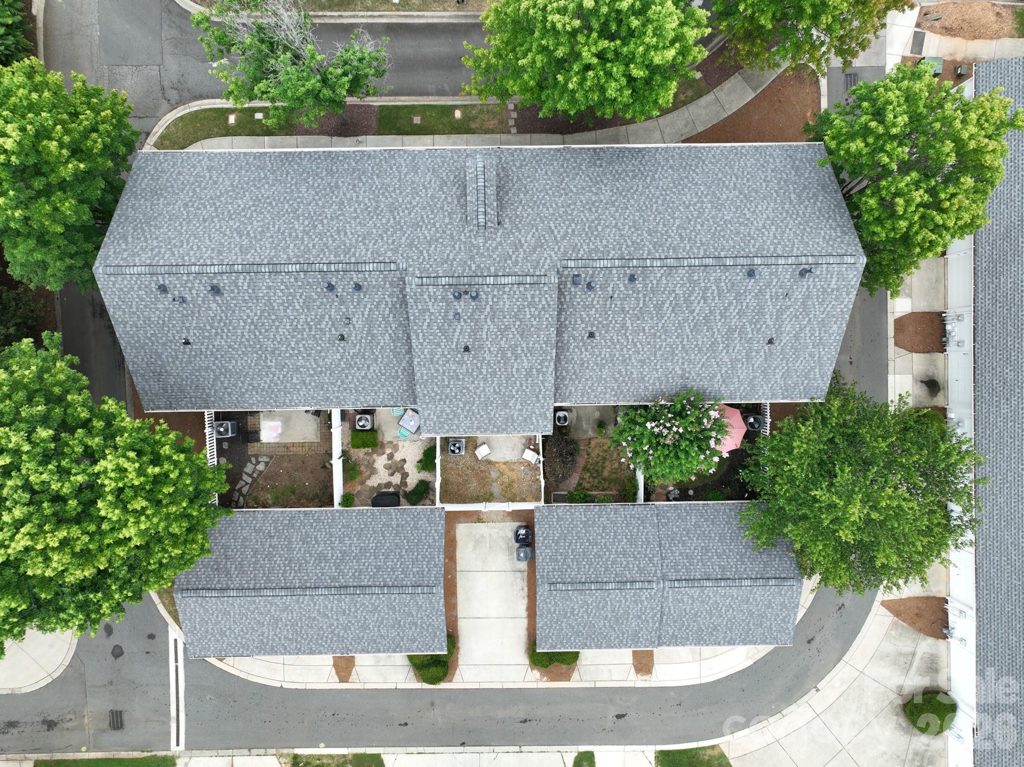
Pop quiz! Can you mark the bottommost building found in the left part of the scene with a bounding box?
[174,504,448,660]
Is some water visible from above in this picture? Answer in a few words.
No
